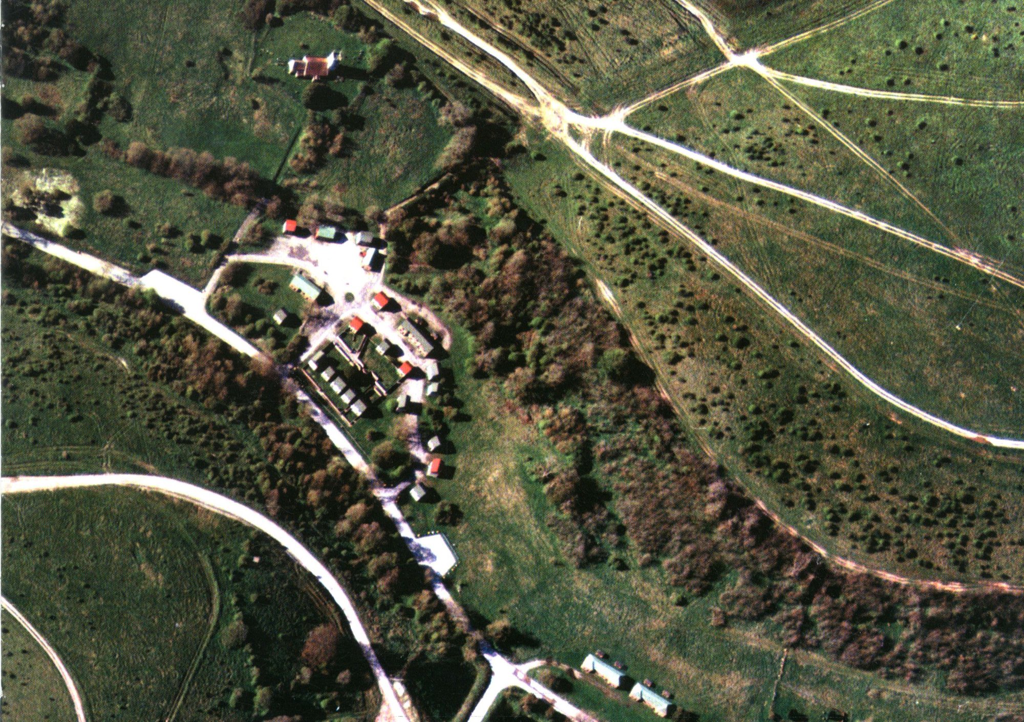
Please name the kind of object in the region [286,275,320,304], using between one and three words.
house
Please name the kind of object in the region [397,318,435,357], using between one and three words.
house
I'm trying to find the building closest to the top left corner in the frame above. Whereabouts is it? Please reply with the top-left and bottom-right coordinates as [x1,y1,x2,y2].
[291,56,342,87]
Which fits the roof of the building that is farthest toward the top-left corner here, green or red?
red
